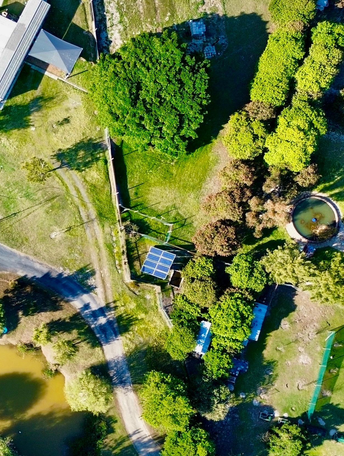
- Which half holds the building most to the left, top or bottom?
top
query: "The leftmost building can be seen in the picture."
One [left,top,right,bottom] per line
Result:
[0,0,51,100]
